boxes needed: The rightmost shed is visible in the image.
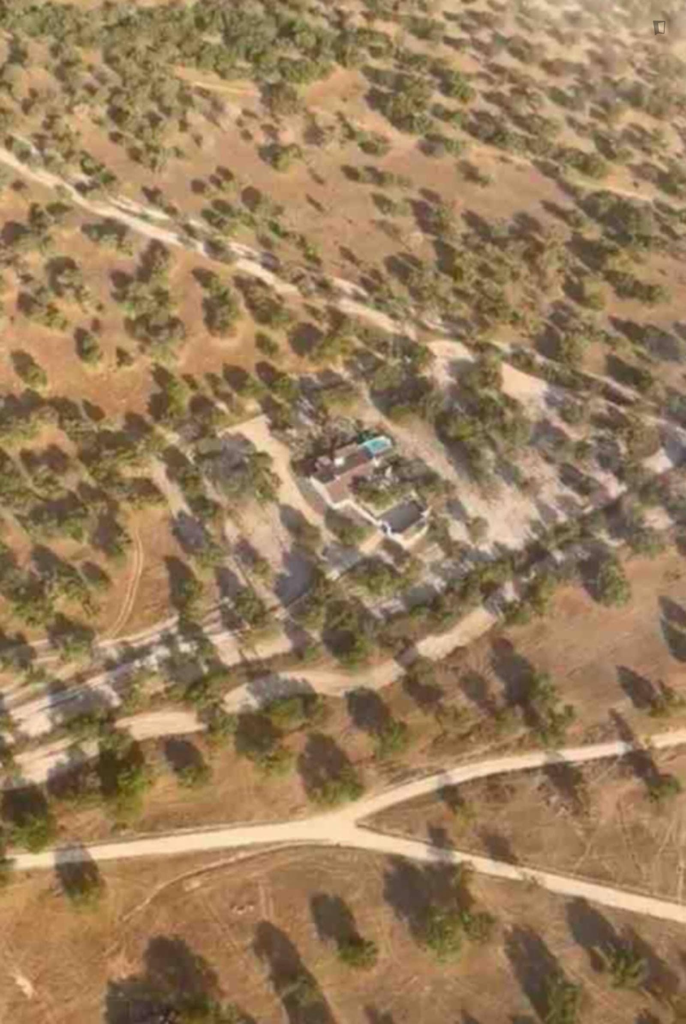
[372,502,428,535]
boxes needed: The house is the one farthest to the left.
[305,451,385,511]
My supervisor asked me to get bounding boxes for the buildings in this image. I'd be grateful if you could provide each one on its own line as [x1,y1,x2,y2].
[305,451,385,511]
[372,502,428,535]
